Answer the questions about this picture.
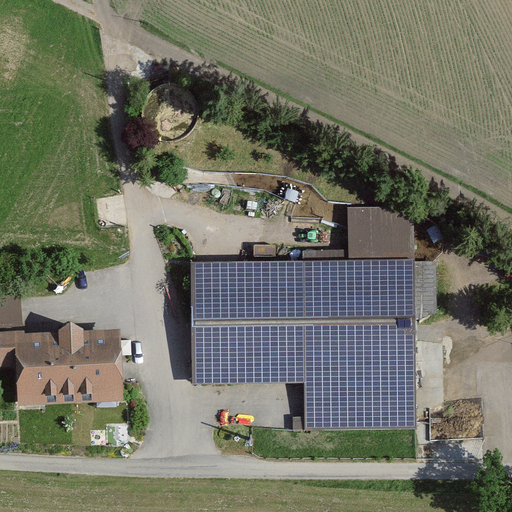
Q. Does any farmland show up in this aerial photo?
Yes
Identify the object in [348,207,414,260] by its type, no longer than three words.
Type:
shed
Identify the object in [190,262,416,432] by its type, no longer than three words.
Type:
barn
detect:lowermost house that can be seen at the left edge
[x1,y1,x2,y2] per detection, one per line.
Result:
[0,322,124,410]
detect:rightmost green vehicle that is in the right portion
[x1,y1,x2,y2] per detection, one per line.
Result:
[294,230,327,242]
